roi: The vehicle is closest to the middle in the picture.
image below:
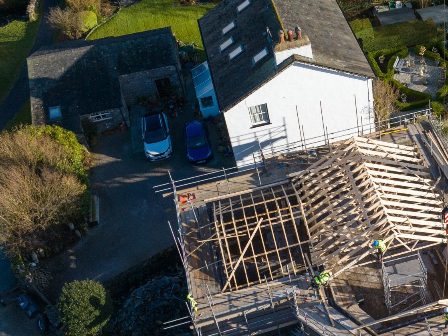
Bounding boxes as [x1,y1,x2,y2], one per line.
[180,116,211,160]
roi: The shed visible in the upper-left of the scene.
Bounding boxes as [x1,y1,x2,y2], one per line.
[24,30,185,153]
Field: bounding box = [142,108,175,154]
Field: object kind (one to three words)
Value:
car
